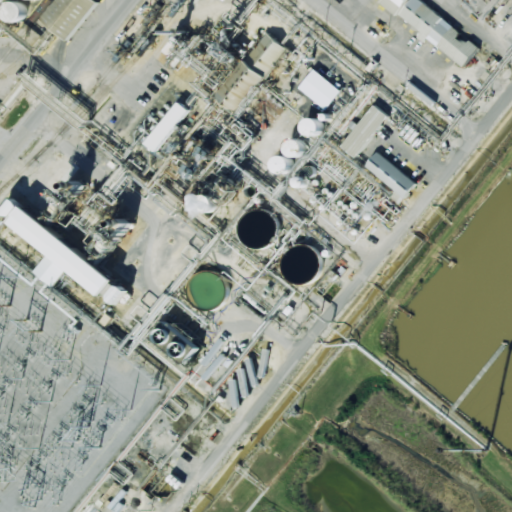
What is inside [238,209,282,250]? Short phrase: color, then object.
black storage tank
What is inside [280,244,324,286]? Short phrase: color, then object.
black storage tank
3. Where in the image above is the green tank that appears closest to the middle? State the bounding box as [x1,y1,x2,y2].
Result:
[186,269,231,310]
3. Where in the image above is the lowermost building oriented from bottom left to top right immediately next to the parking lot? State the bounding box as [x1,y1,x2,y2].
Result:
[144,102,194,151]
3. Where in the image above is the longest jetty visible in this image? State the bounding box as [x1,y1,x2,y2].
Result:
[449,340,508,413]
